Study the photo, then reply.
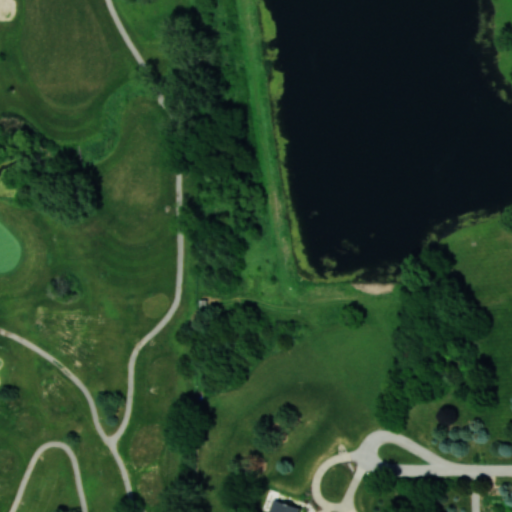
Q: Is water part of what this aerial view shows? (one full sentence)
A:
Yes, water shows up in the scene.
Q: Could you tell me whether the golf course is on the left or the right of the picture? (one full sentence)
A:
The golf course is on the left side of the image.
